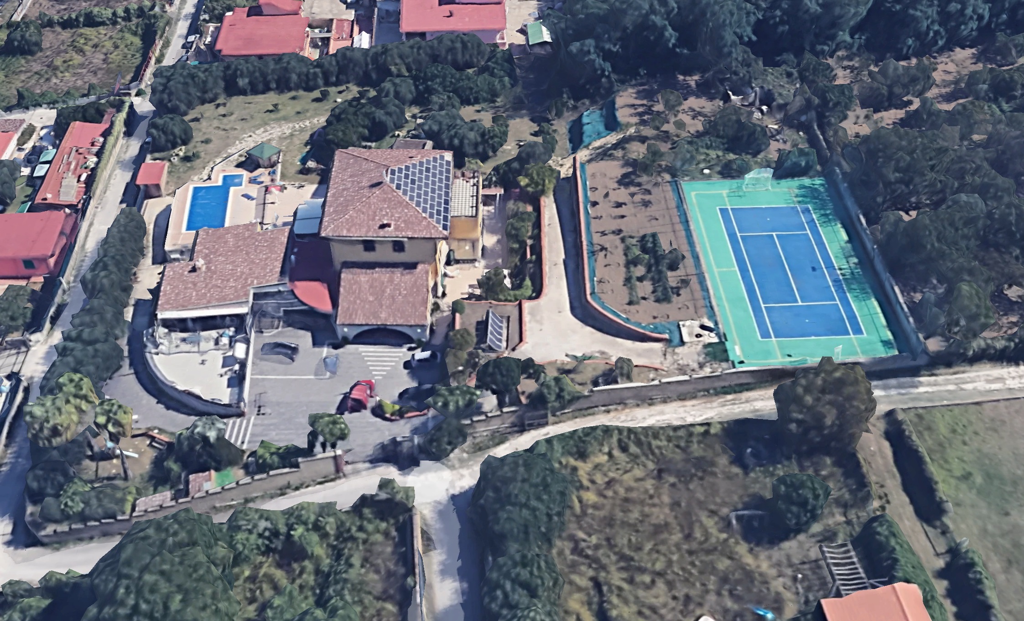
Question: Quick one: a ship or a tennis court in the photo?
tennis court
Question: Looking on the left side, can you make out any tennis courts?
No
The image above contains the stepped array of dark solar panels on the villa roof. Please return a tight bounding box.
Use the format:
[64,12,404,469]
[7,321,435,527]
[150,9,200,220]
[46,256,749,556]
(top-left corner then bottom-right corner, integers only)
[391,153,452,229]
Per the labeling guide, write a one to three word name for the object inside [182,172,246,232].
swimming pool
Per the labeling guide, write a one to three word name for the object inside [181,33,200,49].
car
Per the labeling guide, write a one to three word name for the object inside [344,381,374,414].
car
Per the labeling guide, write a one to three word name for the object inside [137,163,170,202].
shed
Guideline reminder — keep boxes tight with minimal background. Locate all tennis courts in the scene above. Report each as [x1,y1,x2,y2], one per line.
[681,177,905,368]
